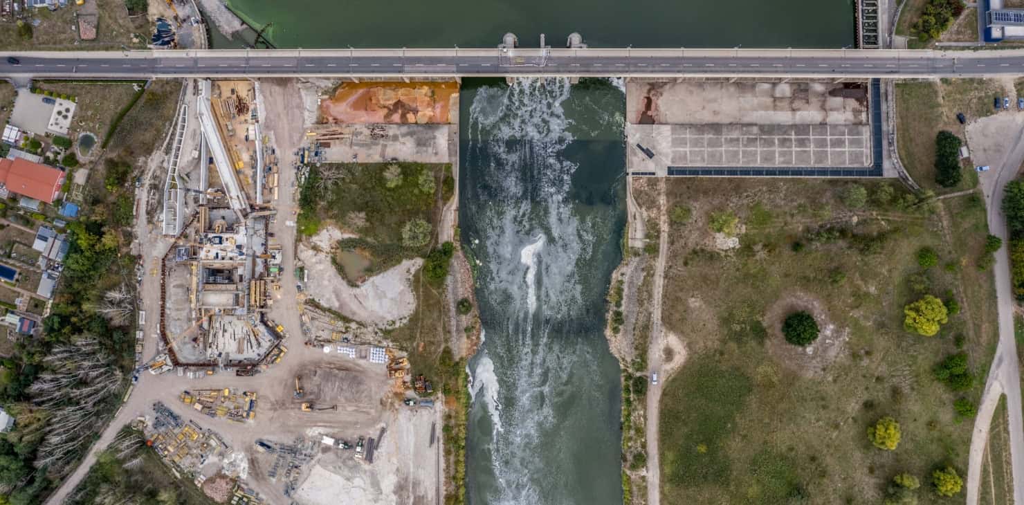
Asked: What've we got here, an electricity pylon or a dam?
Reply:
dam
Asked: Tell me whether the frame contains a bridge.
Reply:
Yes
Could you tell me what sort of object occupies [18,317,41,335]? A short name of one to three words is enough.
house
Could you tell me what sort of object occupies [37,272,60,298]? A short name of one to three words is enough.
house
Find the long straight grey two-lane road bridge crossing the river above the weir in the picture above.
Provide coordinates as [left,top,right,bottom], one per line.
[149,46,939,82]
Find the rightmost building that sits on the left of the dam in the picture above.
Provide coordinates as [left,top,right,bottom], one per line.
[197,212,269,317]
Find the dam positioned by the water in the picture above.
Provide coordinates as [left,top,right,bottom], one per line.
[301,34,870,244]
